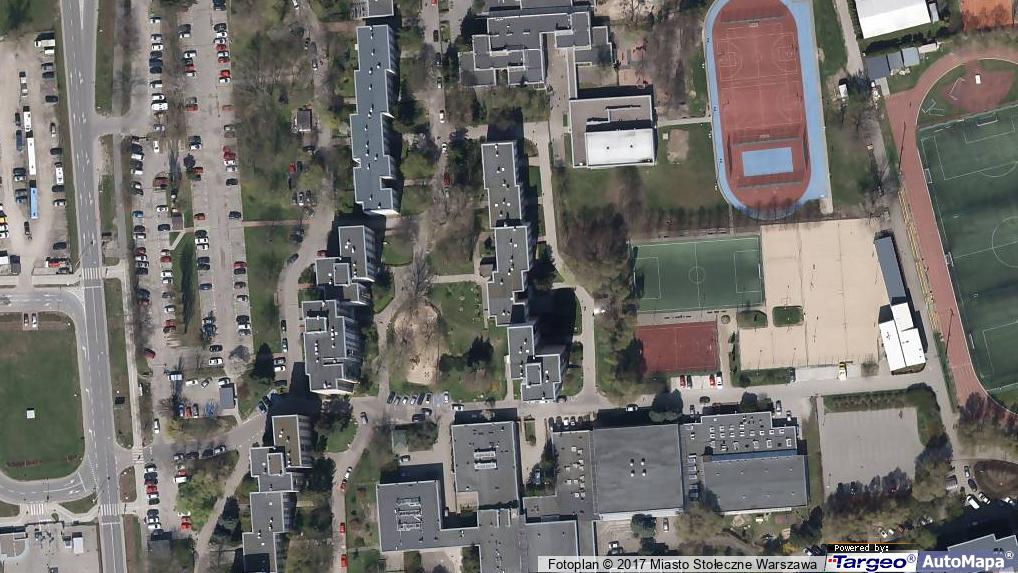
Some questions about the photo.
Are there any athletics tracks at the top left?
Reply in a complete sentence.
No, no athletics track appears at the top left.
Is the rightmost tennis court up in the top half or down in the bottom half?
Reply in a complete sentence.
The rightmost tennis court is in the top half of the image.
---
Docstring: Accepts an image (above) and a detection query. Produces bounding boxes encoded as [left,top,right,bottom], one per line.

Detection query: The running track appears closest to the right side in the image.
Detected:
[886,46,1018,448]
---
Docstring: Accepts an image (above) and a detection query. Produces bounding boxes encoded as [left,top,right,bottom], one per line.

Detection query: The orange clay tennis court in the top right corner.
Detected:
[961,0,1013,32]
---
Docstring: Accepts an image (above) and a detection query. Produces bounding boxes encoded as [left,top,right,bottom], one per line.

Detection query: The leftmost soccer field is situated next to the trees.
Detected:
[633,232,765,314]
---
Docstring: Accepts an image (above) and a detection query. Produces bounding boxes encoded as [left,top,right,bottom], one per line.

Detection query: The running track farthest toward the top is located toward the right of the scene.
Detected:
[704,0,831,221]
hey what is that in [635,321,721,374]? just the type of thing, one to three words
basketball court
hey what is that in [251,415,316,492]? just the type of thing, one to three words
building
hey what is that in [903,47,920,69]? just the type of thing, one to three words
shed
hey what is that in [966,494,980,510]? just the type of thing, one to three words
vehicle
